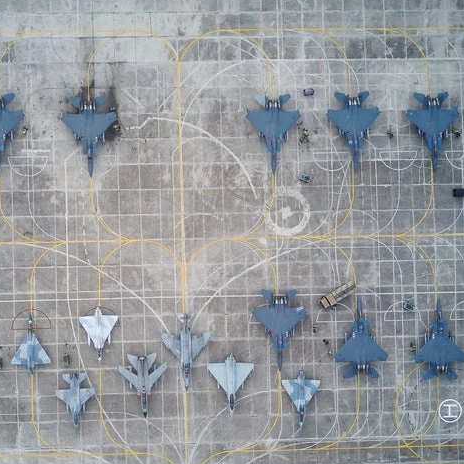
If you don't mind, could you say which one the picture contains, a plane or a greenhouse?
plane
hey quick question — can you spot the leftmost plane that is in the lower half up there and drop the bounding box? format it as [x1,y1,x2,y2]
[11,312,51,373]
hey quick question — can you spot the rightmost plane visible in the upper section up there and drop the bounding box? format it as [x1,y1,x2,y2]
[406,90,462,170]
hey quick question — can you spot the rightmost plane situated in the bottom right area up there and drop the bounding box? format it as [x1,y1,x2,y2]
[413,300,464,380]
